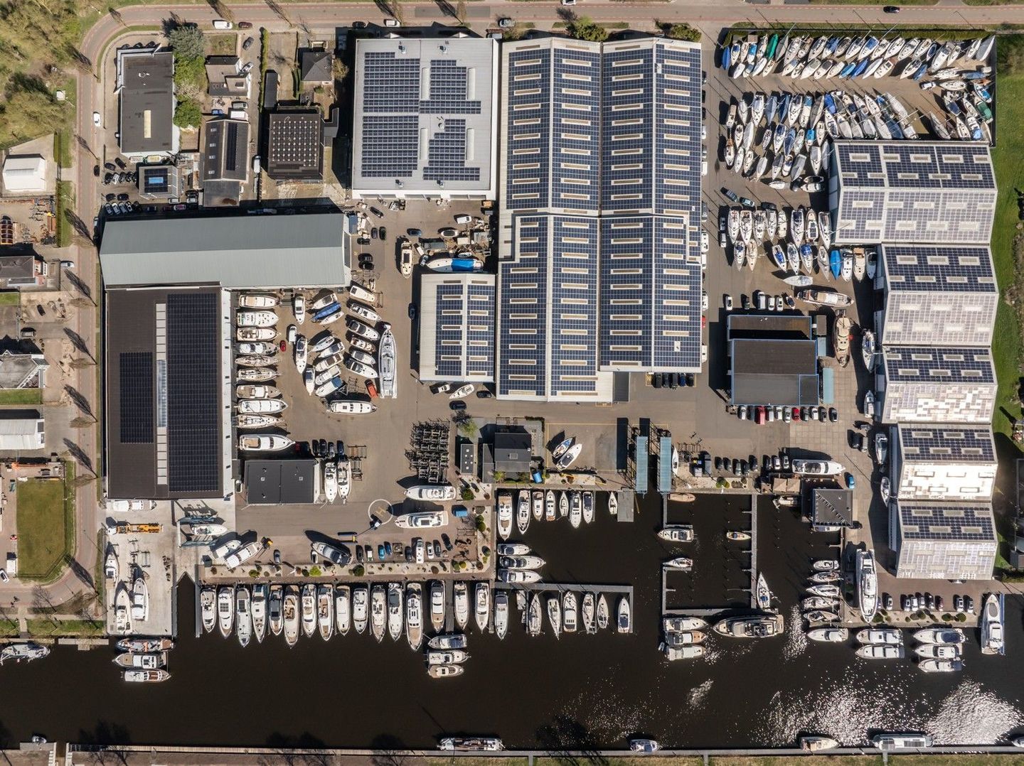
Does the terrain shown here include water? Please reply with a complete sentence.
Yes, the picture does contain water.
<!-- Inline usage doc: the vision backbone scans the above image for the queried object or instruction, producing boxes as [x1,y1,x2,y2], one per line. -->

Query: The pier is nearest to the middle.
[618,491,634,522]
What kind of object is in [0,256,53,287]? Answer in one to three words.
house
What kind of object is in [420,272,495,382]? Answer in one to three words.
building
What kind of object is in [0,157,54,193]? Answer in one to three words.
barn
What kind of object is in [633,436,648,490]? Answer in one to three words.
shed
